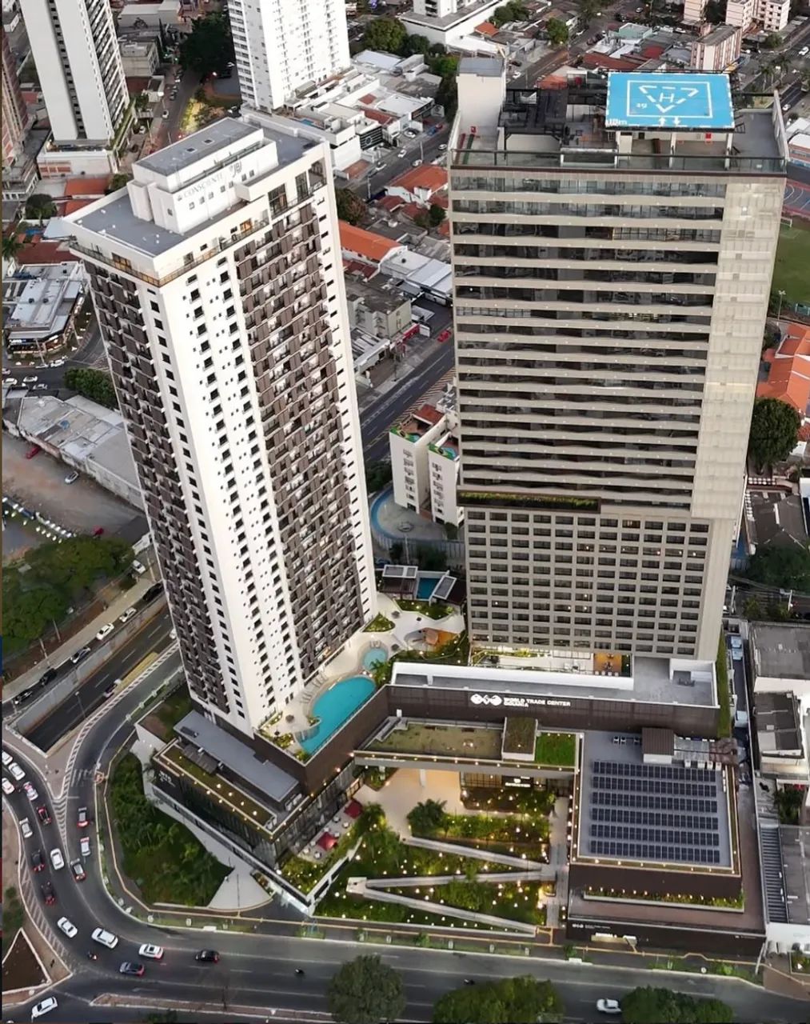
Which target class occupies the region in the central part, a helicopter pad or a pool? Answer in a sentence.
There is a pool in the central part.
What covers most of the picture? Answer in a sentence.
The largest share of the image is taken up by buildings.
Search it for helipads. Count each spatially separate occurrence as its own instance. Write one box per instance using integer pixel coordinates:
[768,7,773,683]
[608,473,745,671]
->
[603,74,736,130]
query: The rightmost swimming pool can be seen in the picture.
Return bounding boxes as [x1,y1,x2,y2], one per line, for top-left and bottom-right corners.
[415,576,442,602]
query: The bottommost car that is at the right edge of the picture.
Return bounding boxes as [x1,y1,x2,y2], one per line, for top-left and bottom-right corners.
[794,940,806,957]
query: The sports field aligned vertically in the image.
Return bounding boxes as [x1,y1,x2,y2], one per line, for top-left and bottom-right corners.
[768,213,810,310]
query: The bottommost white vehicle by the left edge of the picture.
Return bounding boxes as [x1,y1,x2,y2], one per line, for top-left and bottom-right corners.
[32,995,58,1017]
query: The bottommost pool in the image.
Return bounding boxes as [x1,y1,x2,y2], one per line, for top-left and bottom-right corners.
[297,674,377,756]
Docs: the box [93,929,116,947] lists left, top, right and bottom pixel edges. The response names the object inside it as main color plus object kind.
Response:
white car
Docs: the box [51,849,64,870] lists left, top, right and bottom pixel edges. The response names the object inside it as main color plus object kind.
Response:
white vehicle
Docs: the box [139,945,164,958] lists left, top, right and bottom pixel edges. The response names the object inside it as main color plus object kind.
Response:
white vehicle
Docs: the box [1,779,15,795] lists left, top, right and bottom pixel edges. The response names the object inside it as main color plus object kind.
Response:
white car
